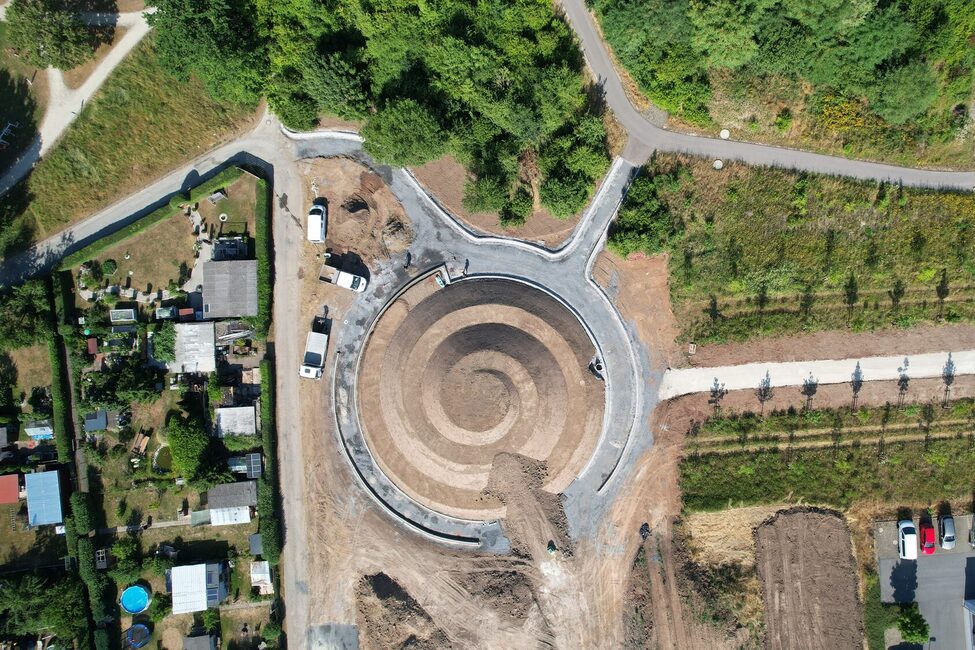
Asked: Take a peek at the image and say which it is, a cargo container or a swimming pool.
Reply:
swimming pool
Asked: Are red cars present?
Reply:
Yes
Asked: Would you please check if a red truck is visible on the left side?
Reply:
No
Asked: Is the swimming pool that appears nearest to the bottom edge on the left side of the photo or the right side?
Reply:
left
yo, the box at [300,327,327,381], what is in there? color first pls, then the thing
white truck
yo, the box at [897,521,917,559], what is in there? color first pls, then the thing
white car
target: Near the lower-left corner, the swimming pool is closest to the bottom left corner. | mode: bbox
[119,582,152,615]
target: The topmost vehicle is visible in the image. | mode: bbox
[308,203,327,243]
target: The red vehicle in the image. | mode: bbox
[918,524,936,554]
